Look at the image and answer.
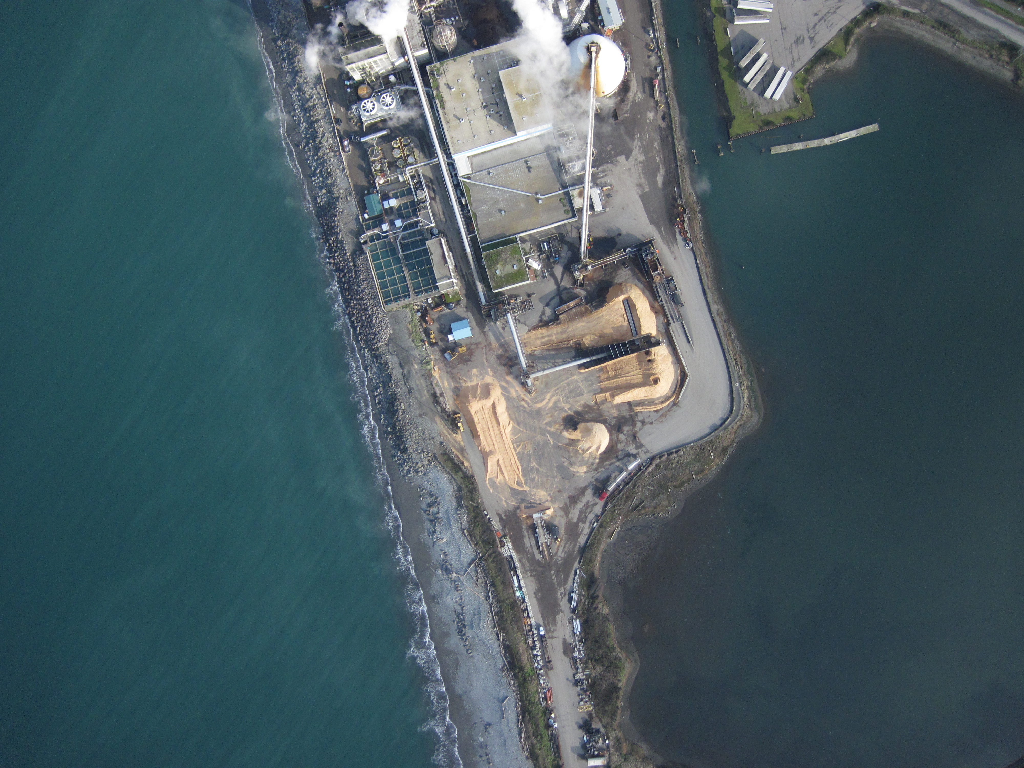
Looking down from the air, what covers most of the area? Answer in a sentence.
For the most part, this view shows water.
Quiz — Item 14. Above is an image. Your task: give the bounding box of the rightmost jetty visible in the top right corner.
[825,123,878,145]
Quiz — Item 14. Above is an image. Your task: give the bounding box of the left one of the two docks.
[770,139,826,154]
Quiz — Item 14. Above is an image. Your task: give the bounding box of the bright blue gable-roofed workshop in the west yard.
[448,319,473,343]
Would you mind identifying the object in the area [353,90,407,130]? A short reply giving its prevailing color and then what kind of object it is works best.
white cooling tower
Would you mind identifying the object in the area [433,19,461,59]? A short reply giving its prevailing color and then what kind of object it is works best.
gray storage tank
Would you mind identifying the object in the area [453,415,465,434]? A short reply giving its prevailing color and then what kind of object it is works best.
yellow vehicle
